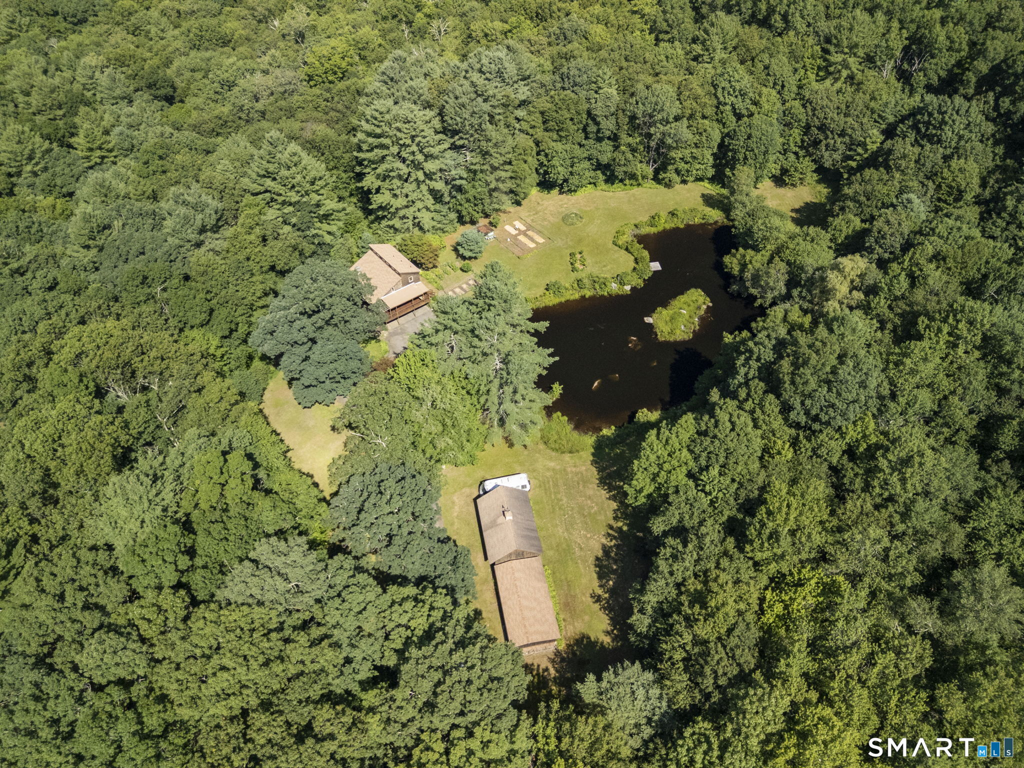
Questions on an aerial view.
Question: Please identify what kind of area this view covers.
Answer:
forest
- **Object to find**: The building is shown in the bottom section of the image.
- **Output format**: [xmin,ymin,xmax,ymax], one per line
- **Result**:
[476,485,560,653]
